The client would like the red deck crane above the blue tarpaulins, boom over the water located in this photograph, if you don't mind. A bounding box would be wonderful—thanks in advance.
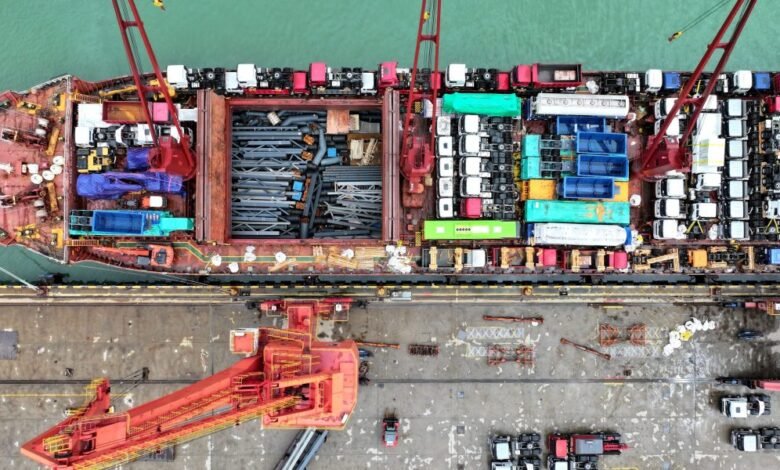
[108,0,197,194]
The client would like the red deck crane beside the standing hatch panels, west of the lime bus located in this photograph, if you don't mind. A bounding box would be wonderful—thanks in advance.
[400,0,441,195]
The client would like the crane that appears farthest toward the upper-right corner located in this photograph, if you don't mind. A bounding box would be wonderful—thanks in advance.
[633,0,762,198]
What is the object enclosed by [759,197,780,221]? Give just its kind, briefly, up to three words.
truck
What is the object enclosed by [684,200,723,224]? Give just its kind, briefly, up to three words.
truck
